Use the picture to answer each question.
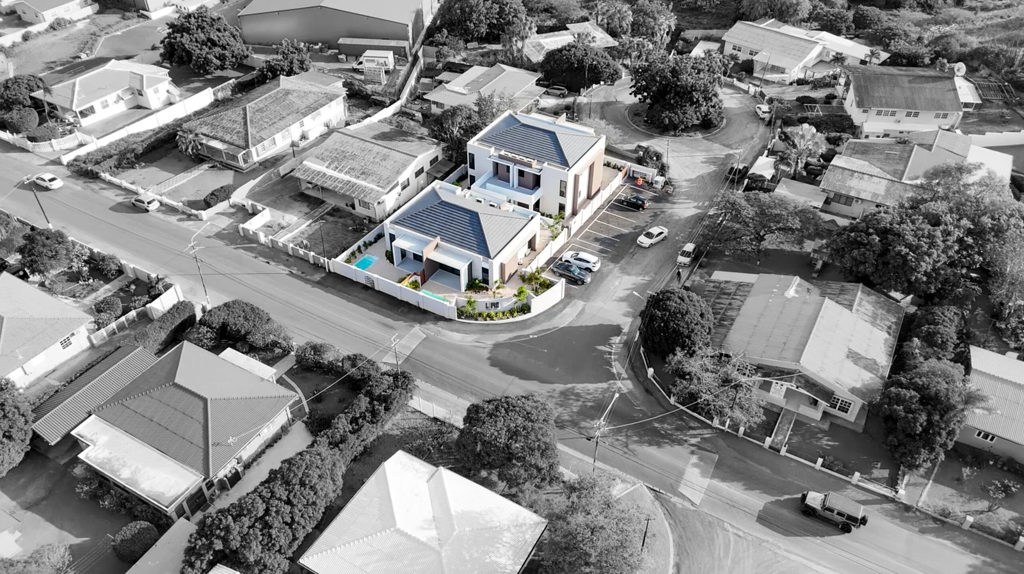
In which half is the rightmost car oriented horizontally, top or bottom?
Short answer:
bottom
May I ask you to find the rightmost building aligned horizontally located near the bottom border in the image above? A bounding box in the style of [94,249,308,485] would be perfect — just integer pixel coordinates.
[297,451,549,574]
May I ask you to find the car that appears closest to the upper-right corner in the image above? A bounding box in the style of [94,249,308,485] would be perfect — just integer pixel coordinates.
[753,103,772,118]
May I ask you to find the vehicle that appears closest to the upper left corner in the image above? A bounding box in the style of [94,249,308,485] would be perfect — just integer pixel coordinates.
[30,171,63,189]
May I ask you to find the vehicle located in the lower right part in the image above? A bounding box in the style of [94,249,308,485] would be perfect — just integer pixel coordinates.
[800,490,869,530]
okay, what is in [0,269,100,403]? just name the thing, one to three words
house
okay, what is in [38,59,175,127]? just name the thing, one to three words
house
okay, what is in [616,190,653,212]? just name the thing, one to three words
car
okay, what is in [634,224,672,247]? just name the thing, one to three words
car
